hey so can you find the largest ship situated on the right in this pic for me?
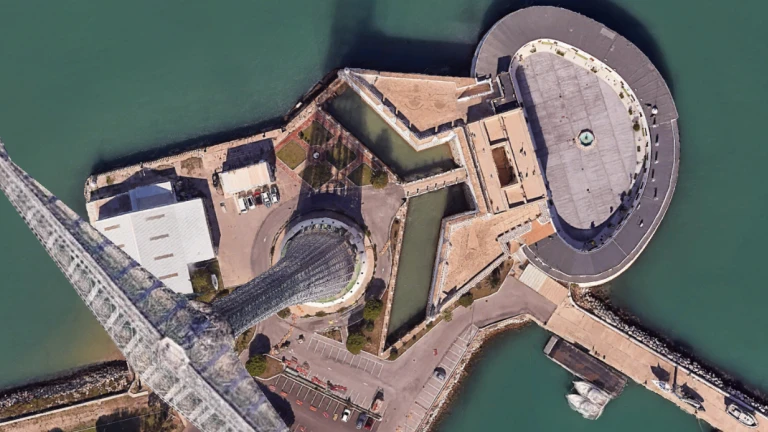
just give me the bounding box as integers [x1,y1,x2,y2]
[542,334,625,396]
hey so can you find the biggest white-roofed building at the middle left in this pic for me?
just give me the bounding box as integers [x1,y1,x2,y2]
[93,196,222,296]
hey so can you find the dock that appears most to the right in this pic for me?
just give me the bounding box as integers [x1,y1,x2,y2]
[544,284,768,432]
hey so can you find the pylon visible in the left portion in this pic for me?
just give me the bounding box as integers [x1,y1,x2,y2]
[0,138,365,432]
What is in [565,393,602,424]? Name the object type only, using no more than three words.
boat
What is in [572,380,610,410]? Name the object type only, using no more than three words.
boat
